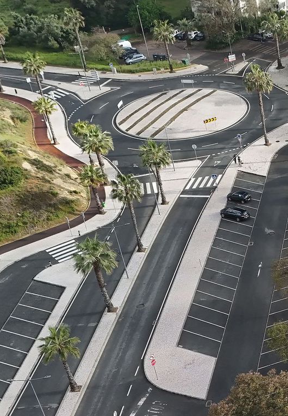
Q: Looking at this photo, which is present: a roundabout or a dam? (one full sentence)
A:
There is a roundabout in the scene.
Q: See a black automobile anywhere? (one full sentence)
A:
Yes, a black automobile is visible in the scene.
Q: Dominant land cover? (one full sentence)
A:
Most of the picture is covered by paved ground.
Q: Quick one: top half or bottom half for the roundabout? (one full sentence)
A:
It is in the top half that the roundabout appears.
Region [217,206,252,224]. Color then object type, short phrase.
black car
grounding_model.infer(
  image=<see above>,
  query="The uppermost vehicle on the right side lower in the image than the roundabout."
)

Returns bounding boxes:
[223,190,254,206]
